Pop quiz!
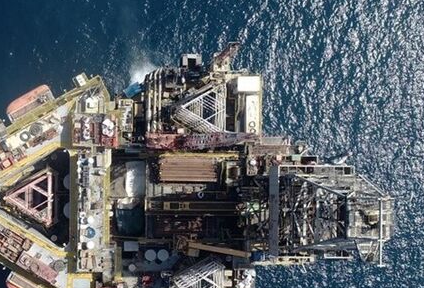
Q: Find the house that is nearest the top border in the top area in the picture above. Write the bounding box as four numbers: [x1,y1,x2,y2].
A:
[177,55,201,74]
